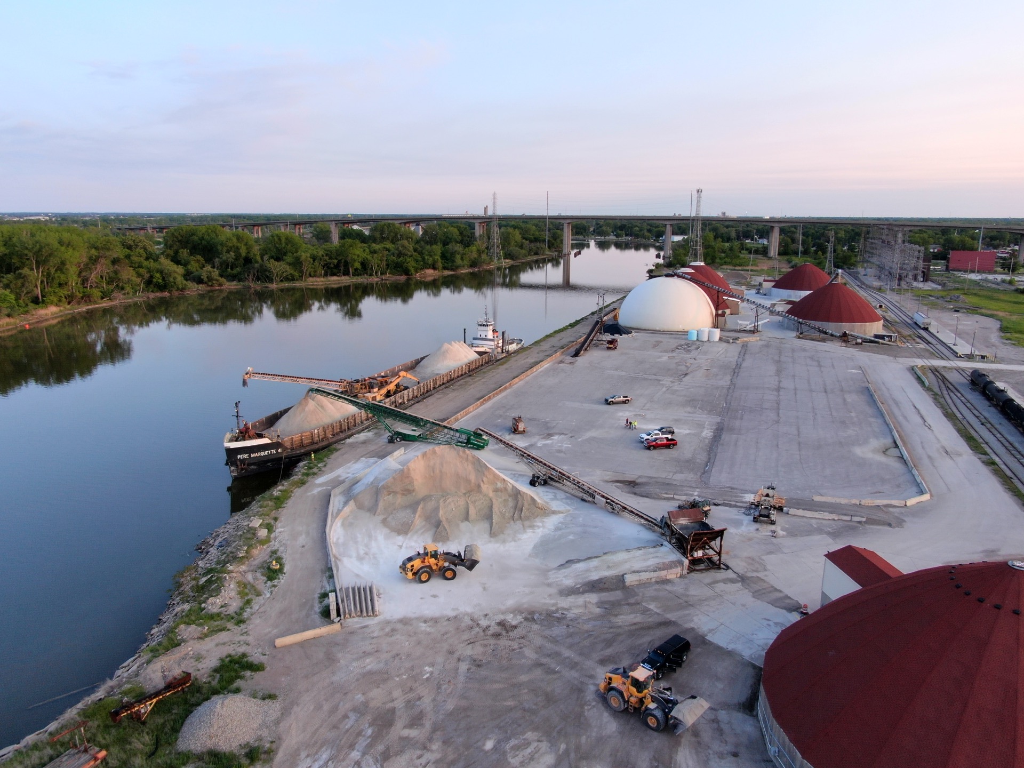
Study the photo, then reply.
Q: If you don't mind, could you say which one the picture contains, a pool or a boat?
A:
boat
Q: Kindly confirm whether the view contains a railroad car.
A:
Yes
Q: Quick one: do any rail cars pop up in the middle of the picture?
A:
No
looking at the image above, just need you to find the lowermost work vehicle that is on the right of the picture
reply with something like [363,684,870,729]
[593,658,719,736]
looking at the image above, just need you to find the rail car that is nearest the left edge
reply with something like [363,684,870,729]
[917,315,933,332]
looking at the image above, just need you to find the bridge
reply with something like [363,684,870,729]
[96,215,1024,261]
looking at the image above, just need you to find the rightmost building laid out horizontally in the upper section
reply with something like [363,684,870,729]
[946,250,1000,272]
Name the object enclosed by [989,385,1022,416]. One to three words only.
rail car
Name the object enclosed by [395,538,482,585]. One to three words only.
work vehicle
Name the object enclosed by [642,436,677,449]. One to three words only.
vehicle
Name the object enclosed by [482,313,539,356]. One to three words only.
boat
